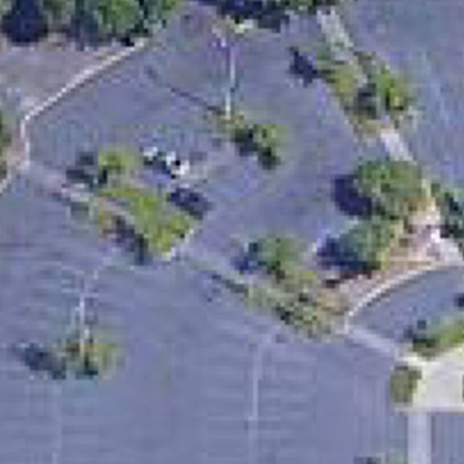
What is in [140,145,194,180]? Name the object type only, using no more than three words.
car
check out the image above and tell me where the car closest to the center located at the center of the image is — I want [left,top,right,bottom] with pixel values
[162,186,213,222]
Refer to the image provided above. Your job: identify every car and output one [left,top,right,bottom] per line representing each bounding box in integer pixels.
[162,186,213,222]
[140,145,194,180]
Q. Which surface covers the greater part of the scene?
paved ground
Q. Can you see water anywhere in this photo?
No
